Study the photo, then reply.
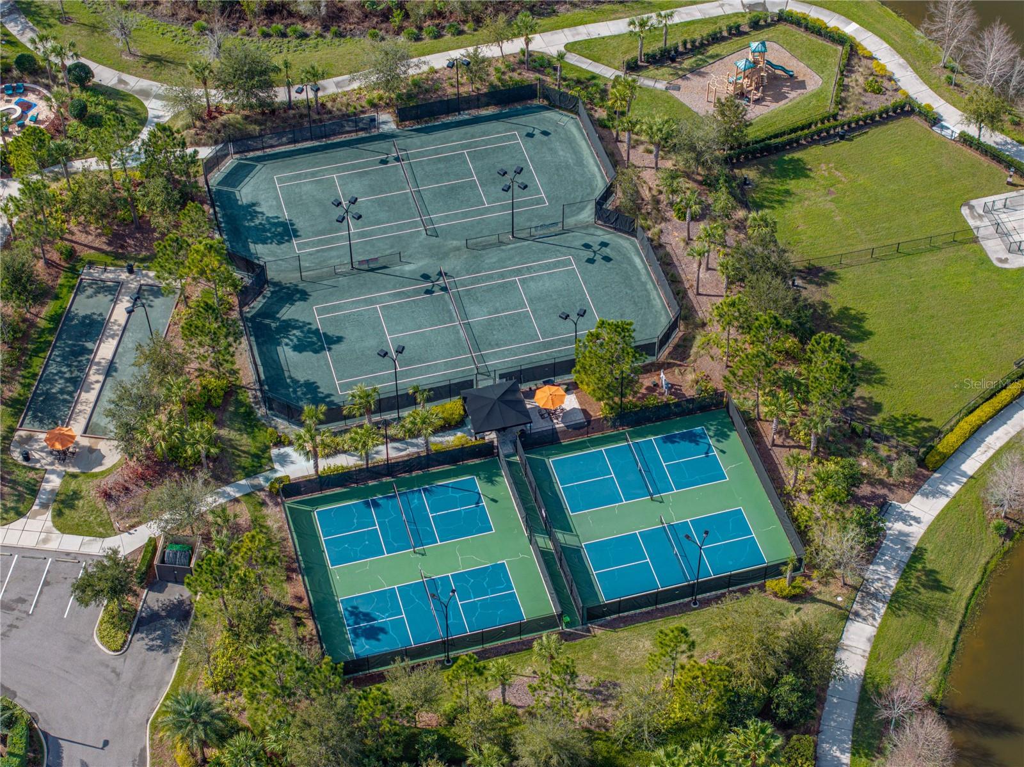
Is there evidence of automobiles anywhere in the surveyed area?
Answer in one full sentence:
No, no automobile is visible in the scene.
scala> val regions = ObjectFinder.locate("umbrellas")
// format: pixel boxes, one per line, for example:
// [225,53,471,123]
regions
[40,426,75,459]
[534,385,569,411]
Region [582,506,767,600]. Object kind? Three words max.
sports court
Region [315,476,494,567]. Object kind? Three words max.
sports court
